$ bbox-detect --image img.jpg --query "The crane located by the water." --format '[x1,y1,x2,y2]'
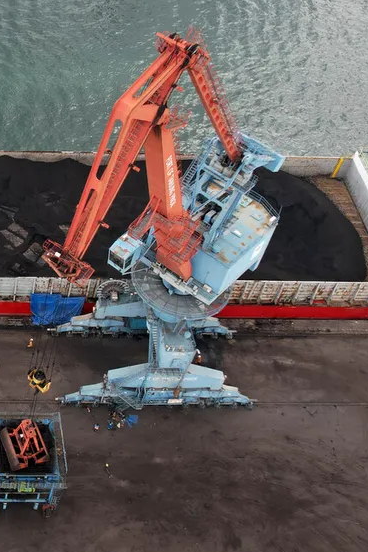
[26,28,295,421]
